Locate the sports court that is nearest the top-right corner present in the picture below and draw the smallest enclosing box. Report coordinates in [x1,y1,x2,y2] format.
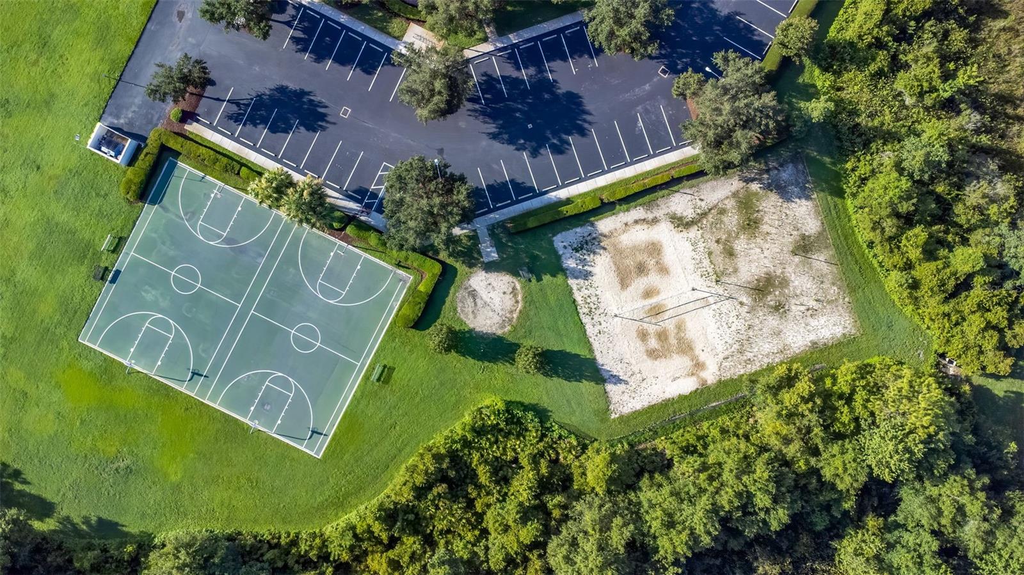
[553,152,859,417]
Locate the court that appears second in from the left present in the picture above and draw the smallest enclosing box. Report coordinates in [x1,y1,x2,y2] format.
[198,218,413,459]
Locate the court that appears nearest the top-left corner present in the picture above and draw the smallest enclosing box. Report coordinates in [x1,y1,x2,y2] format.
[78,156,291,400]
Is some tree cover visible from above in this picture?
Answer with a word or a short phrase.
Yes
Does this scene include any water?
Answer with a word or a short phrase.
No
